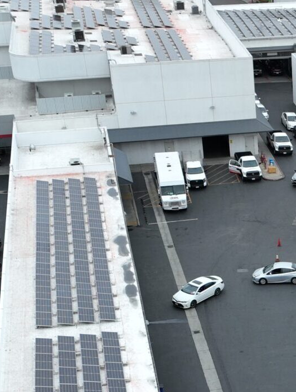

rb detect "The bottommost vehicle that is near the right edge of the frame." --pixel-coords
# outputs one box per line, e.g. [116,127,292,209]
[251,259,296,283]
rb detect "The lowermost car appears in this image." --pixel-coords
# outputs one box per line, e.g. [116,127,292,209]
[178,279,231,312]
